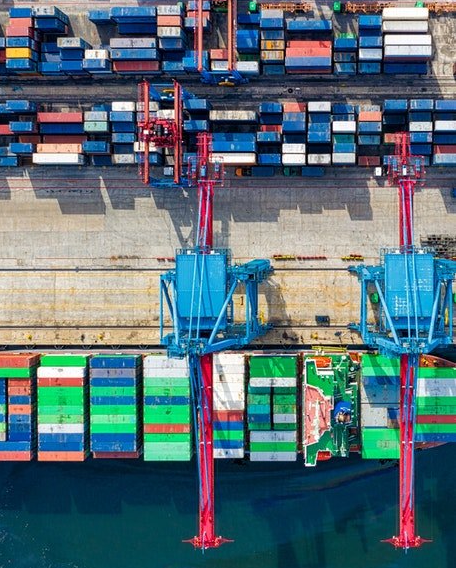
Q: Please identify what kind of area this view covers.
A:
port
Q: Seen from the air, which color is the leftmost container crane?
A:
red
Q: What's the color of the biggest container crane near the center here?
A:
blue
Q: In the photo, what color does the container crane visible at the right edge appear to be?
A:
blue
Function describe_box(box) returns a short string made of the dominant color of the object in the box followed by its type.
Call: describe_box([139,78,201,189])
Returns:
red container crane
